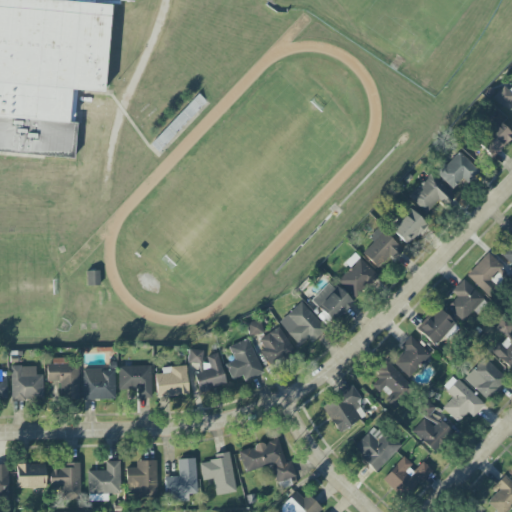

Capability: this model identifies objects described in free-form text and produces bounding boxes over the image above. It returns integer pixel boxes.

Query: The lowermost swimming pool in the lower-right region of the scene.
[414,364,434,384]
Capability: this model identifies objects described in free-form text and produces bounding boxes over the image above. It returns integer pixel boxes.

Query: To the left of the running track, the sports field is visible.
[0,242,58,335]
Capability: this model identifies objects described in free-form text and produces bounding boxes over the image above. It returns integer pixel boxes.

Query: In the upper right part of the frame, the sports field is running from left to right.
[315,0,473,65]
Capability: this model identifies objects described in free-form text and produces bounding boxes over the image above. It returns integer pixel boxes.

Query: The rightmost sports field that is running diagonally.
[116,52,370,315]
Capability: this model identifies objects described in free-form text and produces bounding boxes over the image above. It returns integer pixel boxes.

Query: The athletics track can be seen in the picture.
[104,14,382,326]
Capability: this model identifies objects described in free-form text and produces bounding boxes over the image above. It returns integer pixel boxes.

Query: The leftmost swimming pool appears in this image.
[84,346,118,369]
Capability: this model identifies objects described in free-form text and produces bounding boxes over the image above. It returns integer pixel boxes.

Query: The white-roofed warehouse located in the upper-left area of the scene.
[0,0,122,158]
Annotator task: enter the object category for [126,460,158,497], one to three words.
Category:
house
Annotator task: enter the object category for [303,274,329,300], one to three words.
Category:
swimming pool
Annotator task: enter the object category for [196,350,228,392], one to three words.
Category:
house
